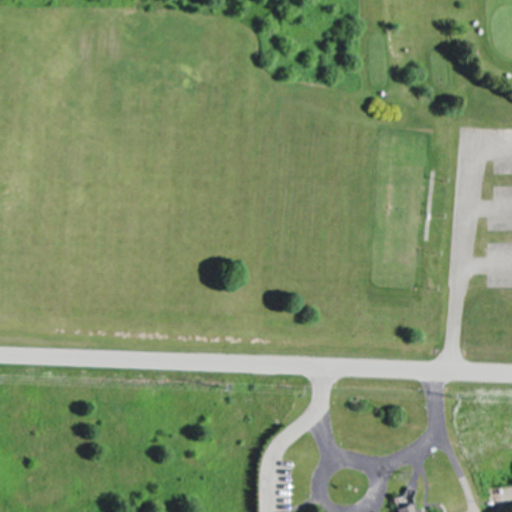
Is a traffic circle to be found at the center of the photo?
No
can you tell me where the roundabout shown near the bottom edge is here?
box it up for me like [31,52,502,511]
[318,458,380,512]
